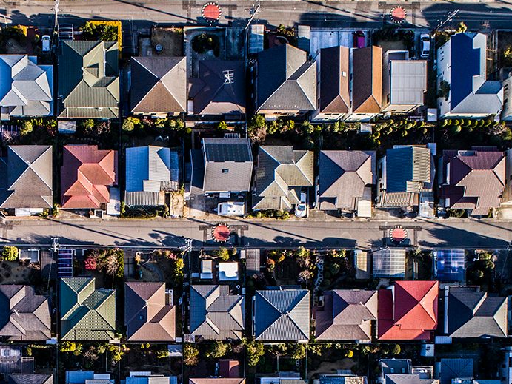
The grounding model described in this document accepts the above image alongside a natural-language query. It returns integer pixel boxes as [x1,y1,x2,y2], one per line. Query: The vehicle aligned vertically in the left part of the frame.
[40,29,53,55]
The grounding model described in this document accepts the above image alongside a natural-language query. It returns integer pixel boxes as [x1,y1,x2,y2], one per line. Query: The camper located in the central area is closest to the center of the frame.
[216,199,249,215]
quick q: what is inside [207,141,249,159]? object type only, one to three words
solar panel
